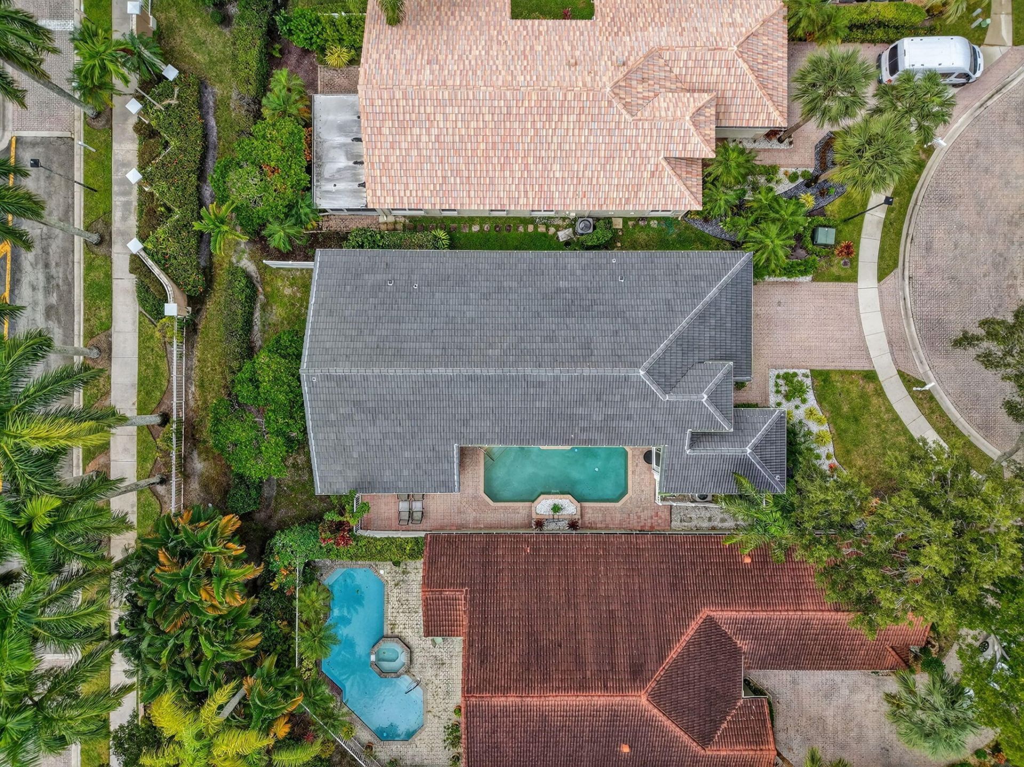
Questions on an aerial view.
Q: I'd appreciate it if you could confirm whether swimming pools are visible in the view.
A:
Yes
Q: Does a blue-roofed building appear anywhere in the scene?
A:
No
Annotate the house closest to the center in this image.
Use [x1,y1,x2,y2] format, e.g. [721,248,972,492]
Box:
[299,248,789,497]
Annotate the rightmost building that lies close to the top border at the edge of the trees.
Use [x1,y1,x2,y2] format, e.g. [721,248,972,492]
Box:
[358,0,790,225]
